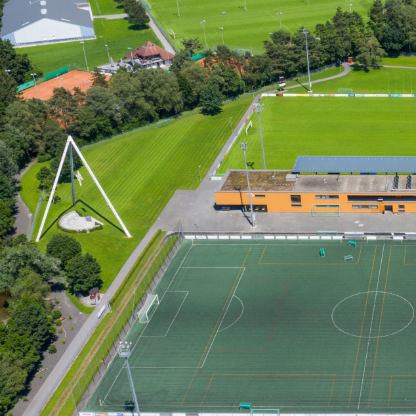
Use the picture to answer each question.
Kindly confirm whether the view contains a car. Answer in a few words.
No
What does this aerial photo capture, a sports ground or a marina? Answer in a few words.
sports ground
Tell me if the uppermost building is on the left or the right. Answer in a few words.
left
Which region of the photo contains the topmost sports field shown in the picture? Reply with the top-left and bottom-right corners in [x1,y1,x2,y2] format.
[141,0,416,55]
